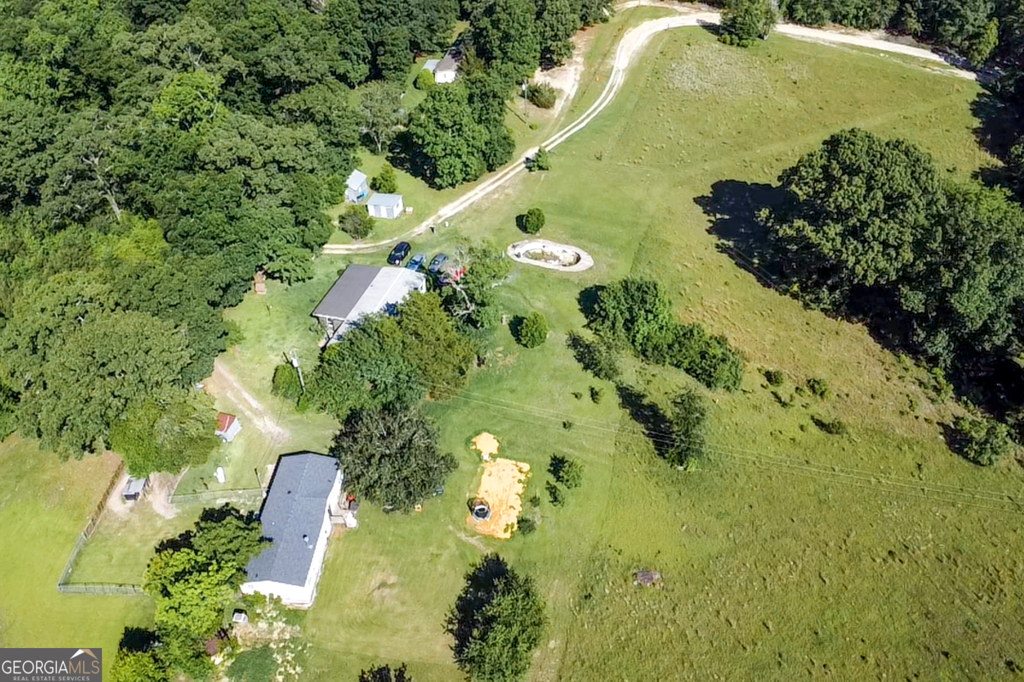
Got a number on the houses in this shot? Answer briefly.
3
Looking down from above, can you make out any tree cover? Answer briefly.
Yes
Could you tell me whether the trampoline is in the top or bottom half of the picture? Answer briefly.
bottom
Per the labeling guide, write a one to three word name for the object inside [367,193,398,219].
shed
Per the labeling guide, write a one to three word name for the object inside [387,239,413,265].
car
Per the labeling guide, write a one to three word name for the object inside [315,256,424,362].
house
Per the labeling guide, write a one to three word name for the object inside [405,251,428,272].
car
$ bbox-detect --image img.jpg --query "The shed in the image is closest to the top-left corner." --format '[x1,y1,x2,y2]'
[346,169,369,202]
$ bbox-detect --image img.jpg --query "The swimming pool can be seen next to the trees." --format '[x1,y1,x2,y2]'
[509,239,594,272]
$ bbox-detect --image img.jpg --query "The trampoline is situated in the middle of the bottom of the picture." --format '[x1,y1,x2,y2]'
[471,498,492,525]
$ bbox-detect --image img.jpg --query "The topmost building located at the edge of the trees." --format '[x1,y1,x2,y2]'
[426,49,466,87]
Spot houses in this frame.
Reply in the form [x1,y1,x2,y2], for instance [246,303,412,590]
[426,49,466,87]
[242,453,342,609]
[315,256,424,362]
